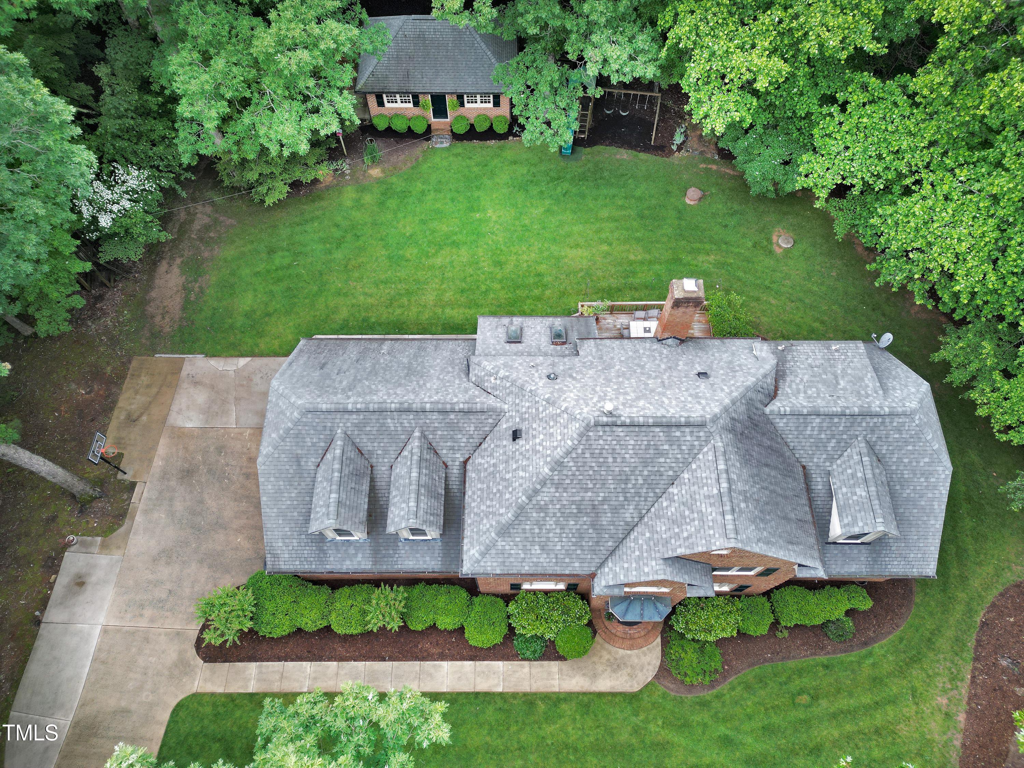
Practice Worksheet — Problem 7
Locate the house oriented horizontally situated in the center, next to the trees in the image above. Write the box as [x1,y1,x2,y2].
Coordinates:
[255,277,951,622]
